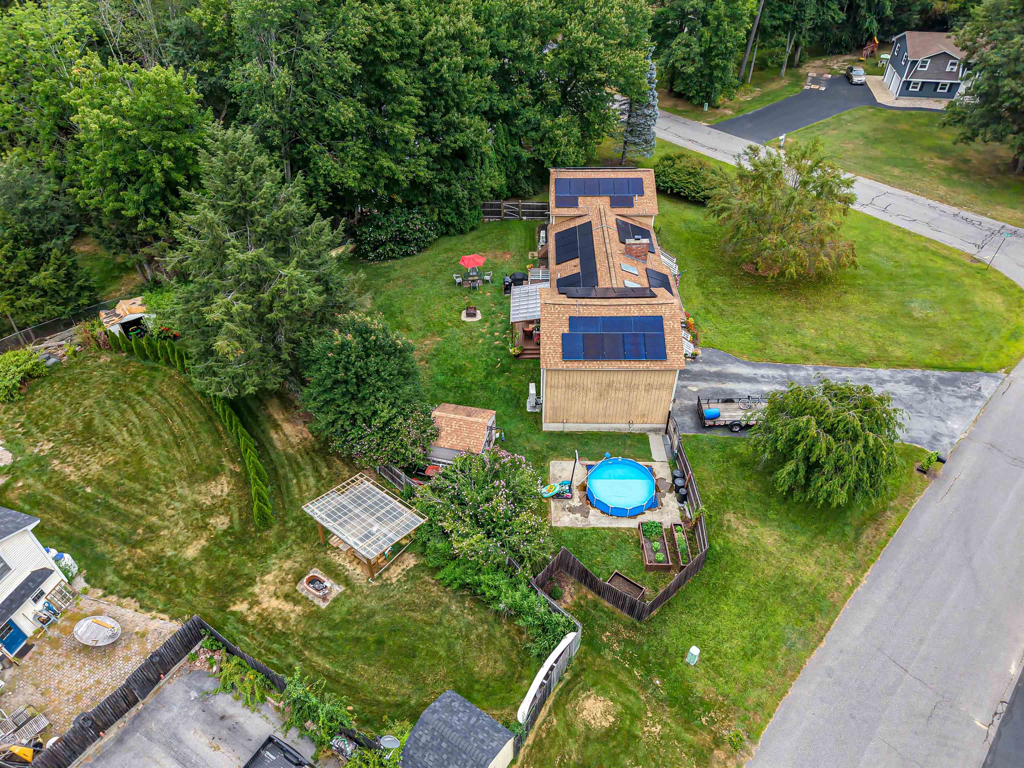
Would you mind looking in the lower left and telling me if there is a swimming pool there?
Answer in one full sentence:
No, the scene shows no swimming pool in the lower left.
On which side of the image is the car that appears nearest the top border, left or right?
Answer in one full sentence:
The car that appears nearest the top border is on the right side of the image.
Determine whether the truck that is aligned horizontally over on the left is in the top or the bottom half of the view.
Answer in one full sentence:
The truck that is aligned horizontally over on the left is in the bottom half of the image.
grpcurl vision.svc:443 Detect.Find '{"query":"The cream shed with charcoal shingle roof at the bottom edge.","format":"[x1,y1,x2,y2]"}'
[391,691,517,768]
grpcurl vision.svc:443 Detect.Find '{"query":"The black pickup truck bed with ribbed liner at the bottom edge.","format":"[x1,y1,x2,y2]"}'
[240,734,313,768]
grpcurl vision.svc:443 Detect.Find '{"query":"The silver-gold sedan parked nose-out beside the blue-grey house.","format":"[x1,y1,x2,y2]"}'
[842,65,873,86]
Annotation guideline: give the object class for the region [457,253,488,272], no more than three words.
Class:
umbrella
